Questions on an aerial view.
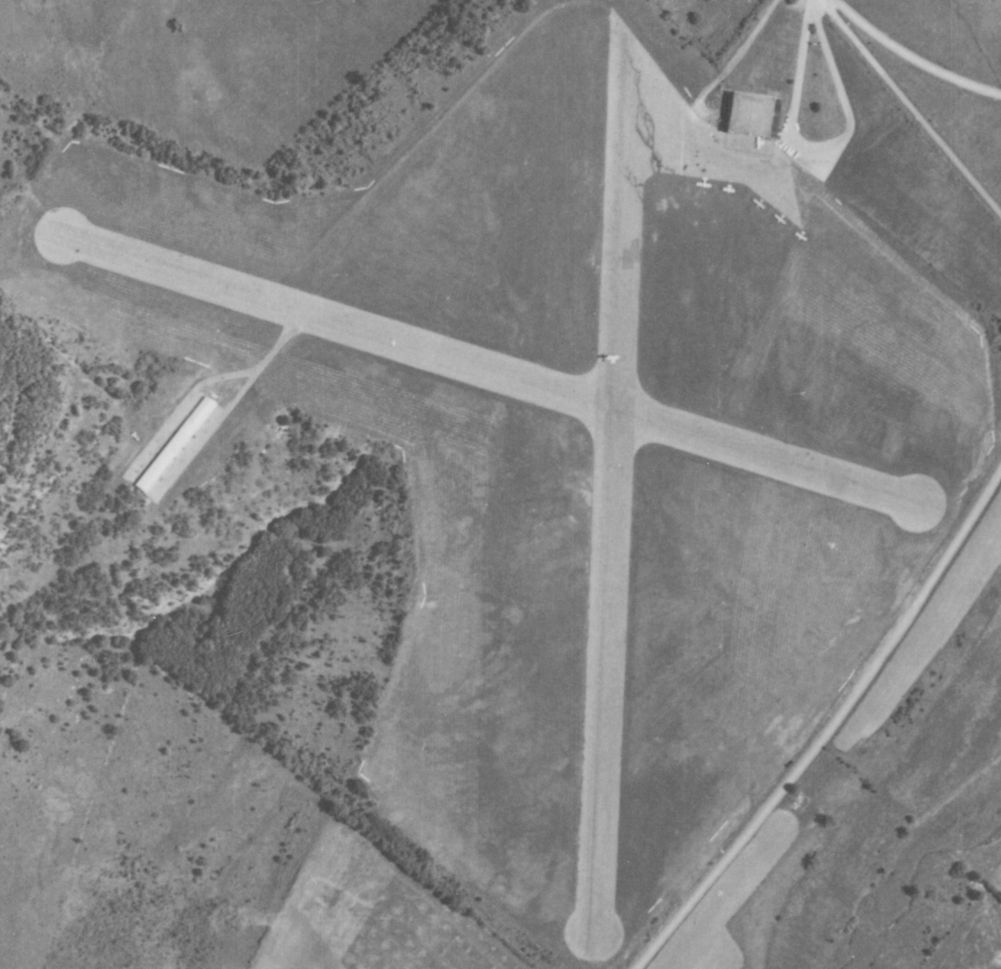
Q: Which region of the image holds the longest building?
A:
left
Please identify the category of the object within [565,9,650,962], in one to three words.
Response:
runway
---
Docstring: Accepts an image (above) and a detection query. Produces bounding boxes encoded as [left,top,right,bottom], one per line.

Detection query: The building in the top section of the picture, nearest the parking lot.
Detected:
[728,91,781,137]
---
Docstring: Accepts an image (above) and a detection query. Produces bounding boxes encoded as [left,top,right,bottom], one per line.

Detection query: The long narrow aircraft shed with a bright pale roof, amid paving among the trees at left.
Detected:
[137,397,217,494]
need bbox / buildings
[728,91,781,137]
[137,397,217,494]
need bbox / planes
[757,136,766,149]
[606,354,621,365]
[796,230,807,241]
[696,176,713,188]
[775,213,786,224]
[754,197,765,208]
[723,183,736,193]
